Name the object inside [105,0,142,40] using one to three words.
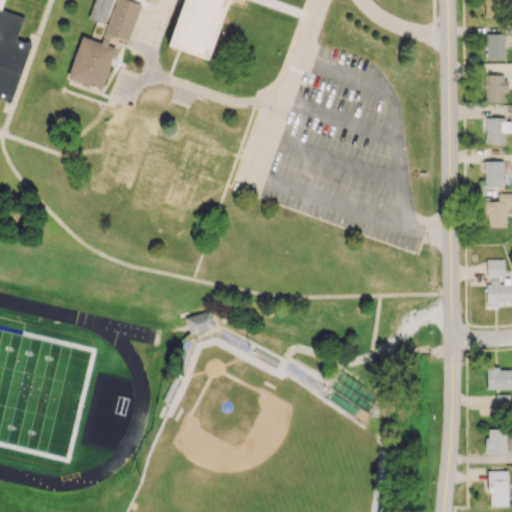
building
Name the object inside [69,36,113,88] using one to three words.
building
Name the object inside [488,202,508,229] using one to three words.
house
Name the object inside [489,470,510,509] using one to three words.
house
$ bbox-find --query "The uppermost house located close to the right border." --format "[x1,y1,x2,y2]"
[488,34,506,62]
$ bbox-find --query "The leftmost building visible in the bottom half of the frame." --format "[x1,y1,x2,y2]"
[187,312,215,336]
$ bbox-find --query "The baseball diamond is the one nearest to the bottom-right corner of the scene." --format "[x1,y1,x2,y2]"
[138,349,376,512]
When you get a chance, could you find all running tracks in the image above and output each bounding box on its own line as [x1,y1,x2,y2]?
[0,293,158,491]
